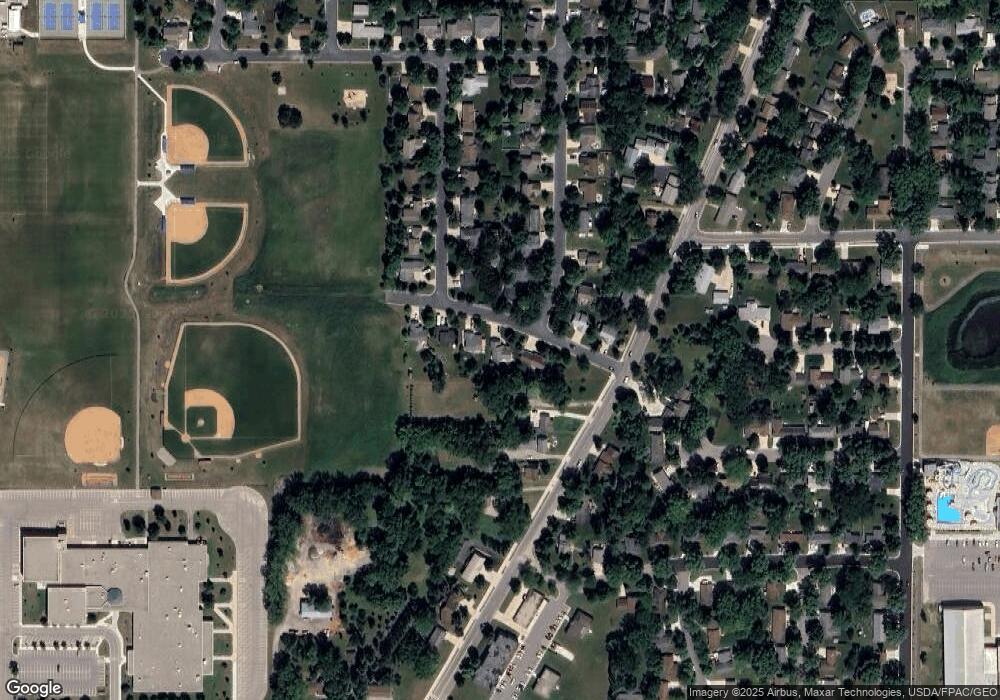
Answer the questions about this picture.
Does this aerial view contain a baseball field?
Yes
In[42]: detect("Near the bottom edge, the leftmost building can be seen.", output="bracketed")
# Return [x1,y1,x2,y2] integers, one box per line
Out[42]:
[21,534,213,693]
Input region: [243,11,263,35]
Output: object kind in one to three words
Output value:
house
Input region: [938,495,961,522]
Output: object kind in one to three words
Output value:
swimming pool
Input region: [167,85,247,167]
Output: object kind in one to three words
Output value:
baseball field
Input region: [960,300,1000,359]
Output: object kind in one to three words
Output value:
pond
